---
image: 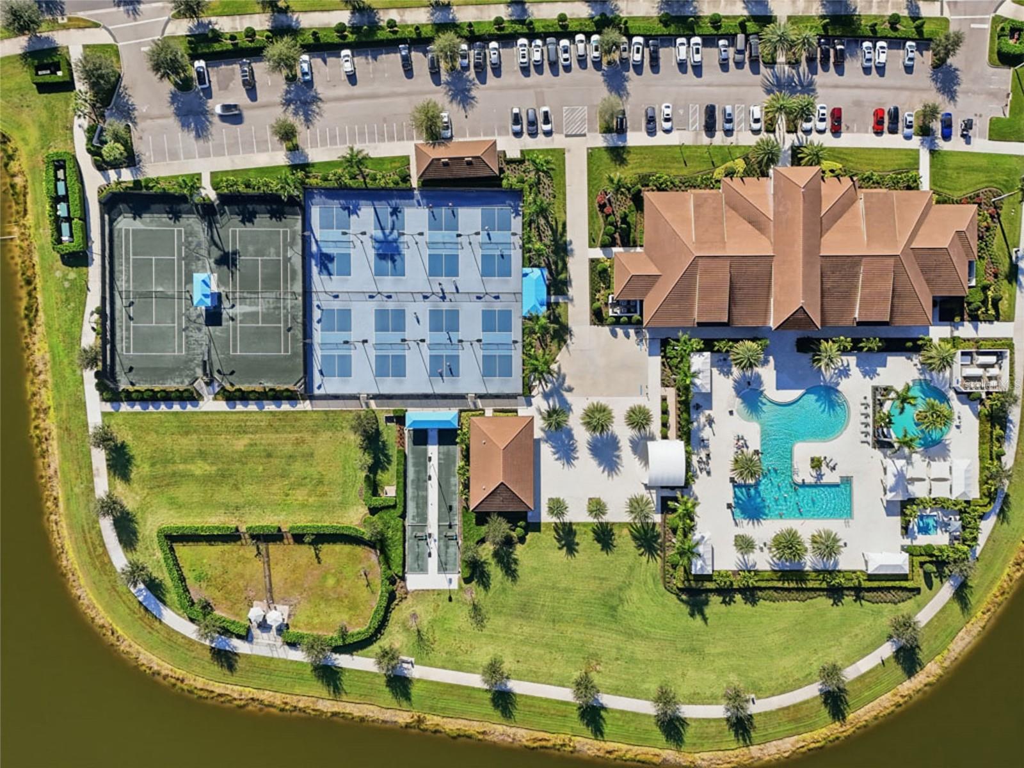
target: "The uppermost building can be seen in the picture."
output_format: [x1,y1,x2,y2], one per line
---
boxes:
[416,140,498,181]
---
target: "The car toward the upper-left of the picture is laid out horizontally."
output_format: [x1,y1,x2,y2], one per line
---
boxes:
[215,103,243,117]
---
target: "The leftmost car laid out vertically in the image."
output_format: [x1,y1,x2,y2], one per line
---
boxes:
[194,60,211,89]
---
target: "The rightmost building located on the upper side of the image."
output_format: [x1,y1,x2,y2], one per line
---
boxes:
[614,166,978,330]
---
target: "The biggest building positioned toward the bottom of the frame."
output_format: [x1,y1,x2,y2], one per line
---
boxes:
[470,416,534,511]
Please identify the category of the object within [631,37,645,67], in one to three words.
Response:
car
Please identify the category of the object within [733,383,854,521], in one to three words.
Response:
swimming pool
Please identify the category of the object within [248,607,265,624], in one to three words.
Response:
umbrella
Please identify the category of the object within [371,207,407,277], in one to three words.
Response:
sports court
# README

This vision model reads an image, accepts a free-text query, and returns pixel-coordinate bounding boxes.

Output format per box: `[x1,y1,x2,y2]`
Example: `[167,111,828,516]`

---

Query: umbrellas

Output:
[265,610,282,627]
[946,519,963,534]
[248,607,265,624]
